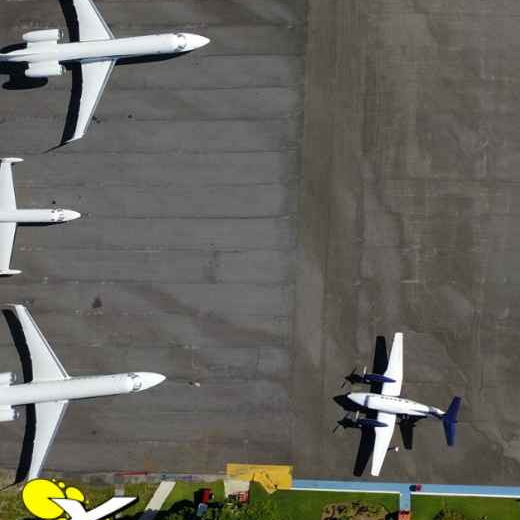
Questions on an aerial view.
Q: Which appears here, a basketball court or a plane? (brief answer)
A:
plane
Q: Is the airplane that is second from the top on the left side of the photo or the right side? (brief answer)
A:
left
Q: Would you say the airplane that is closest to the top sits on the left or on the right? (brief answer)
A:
left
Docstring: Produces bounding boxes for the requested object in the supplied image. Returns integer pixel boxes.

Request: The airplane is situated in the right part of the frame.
[348,333,461,474]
